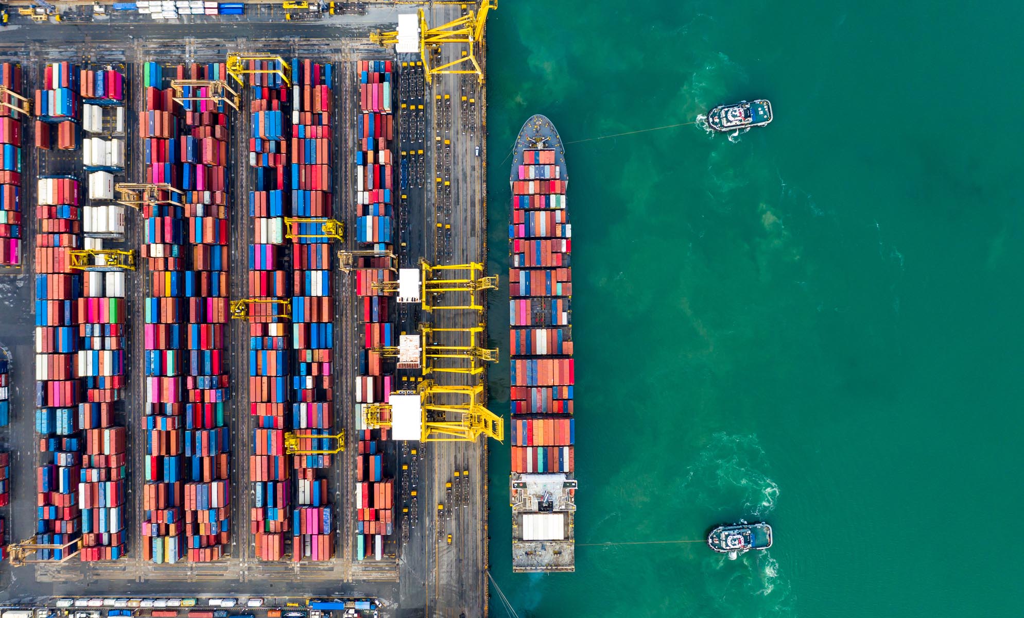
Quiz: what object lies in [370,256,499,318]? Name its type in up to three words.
container crane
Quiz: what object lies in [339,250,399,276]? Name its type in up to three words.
container crane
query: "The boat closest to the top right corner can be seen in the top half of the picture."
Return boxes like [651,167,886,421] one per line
[706,101,774,132]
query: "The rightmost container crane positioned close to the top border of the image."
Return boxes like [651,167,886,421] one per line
[369,0,499,90]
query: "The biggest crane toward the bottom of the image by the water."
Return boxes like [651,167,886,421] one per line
[365,375,507,447]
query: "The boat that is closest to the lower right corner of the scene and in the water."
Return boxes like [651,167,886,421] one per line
[707,525,773,553]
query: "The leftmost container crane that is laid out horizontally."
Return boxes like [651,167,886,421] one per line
[7,530,84,566]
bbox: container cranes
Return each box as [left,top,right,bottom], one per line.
[370,318,500,377]
[284,425,348,457]
[68,248,141,274]
[229,296,292,322]
[7,530,84,566]
[226,53,293,89]
[171,80,243,114]
[370,256,499,318]
[365,375,507,447]
[115,184,189,213]
[339,250,399,276]
[0,84,32,118]
[284,216,348,244]
[369,0,499,90]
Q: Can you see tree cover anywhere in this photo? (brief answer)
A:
No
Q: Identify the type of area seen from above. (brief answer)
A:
port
